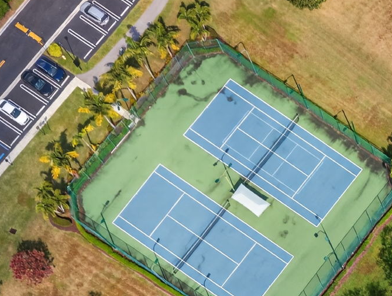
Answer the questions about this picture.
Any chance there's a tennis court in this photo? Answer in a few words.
Yes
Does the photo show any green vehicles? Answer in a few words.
No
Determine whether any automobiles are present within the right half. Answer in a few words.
No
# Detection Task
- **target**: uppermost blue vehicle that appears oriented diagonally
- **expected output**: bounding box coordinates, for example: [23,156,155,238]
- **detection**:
[34,54,67,80]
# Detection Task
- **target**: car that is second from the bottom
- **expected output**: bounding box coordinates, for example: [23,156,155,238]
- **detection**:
[20,69,54,95]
